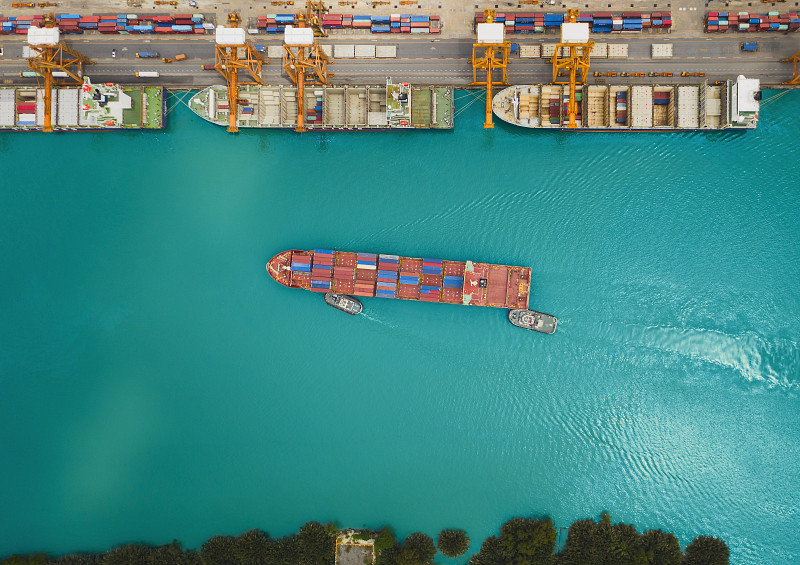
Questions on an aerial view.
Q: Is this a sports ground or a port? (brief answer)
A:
port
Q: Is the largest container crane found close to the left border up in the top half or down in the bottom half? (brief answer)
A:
top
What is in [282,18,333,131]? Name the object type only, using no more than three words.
container crane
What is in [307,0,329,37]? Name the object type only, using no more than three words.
container crane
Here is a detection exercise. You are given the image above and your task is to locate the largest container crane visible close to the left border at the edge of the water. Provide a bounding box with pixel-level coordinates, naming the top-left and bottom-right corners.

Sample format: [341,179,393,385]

[27,18,94,131]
